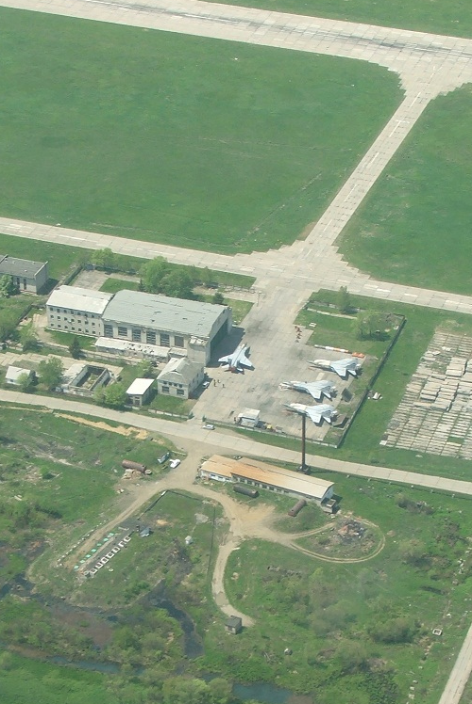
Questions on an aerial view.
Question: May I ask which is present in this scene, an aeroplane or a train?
aeroplane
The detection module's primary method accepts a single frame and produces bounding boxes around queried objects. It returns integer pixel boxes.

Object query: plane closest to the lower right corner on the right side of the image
[295,399,340,421]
